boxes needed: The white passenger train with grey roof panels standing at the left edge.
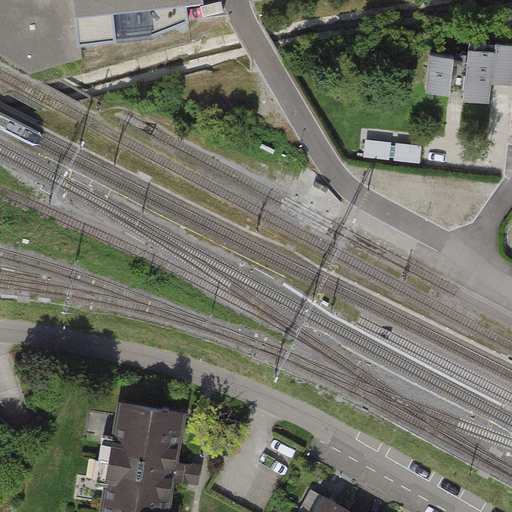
[0,112,44,146]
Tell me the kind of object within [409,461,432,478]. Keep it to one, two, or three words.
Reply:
car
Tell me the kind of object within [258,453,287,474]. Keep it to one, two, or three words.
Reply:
truck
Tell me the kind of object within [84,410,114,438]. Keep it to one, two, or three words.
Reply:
building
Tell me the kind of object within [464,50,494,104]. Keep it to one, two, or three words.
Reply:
house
